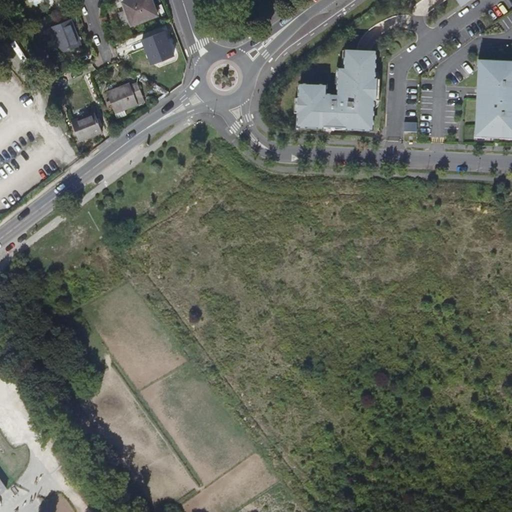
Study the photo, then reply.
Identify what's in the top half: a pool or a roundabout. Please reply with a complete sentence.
The feature located in the top half is a roundabout.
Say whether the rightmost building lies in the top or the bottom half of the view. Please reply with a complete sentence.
Seen from above, the rightmost building lies in the top half of the view.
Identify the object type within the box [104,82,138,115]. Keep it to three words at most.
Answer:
house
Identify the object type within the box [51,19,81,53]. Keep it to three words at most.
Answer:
house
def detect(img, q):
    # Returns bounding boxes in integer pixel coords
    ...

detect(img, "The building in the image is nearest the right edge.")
[476,60,512,140]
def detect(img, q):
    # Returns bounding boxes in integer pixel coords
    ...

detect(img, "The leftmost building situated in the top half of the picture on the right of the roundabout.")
[294,50,380,132]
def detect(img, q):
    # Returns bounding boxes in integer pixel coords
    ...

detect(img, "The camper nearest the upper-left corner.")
[12,42,28,60]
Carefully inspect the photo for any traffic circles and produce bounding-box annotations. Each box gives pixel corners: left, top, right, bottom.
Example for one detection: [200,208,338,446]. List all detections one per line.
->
[186,50,256,118]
